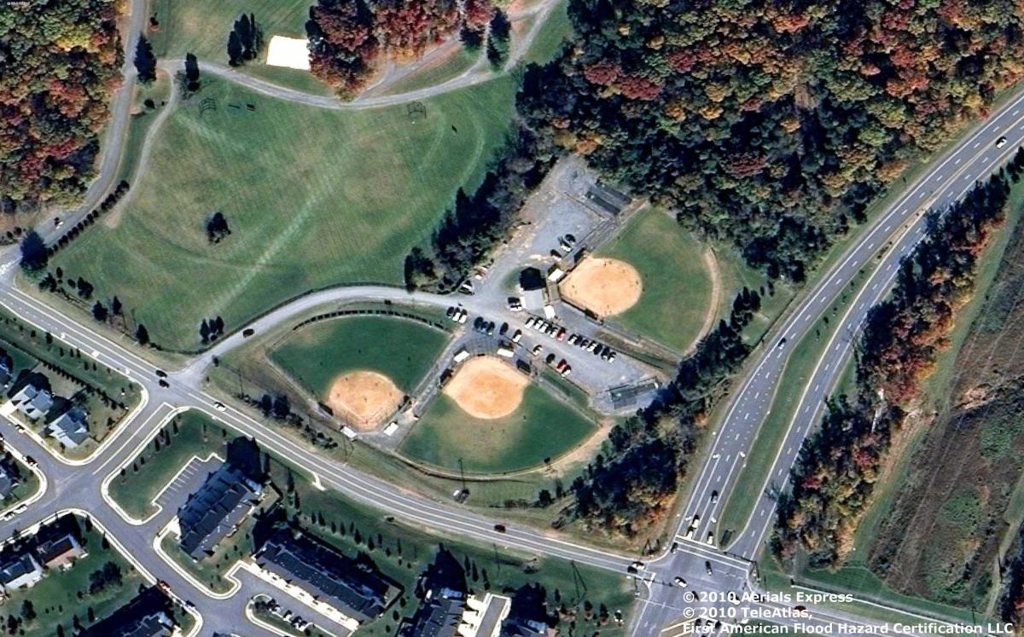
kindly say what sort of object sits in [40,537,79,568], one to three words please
house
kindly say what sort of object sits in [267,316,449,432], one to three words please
baseball field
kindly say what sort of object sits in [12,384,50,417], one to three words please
house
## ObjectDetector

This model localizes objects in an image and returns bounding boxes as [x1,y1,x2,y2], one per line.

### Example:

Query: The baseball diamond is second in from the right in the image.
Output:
[394,356,608,480]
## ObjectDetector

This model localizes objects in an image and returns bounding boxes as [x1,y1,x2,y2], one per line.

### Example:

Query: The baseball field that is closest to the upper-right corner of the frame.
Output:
[559,205,720,353]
